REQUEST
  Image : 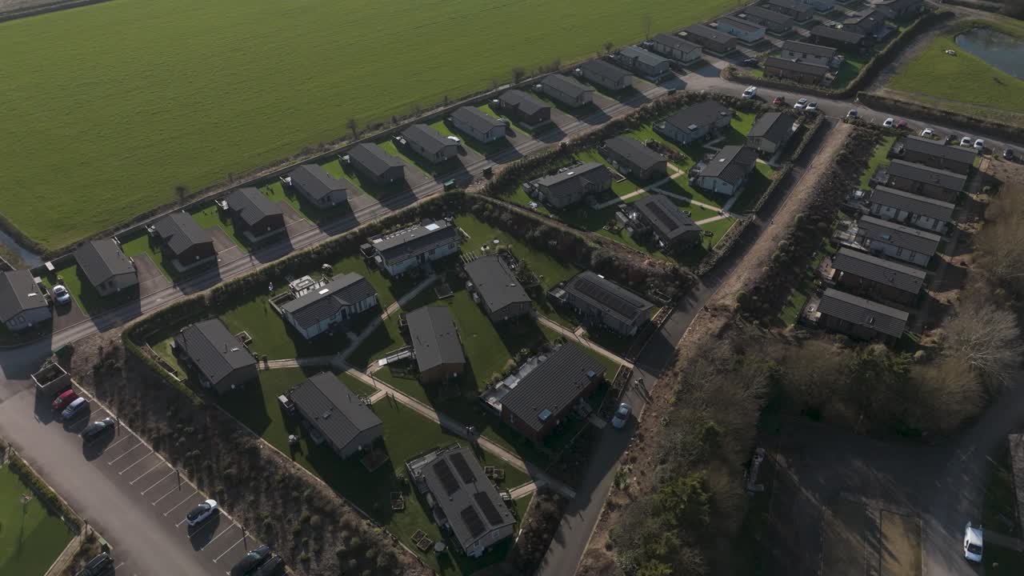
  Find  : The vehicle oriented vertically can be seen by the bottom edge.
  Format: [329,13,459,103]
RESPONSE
[963,517,985,564]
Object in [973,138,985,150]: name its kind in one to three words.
vehicle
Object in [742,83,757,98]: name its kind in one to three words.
vehicle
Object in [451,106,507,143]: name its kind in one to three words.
building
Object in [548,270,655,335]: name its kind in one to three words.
building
